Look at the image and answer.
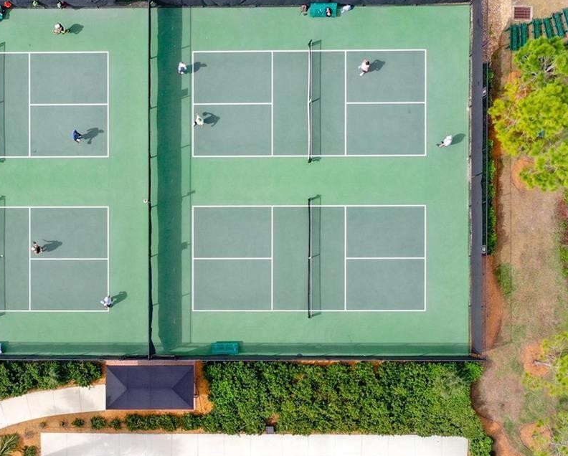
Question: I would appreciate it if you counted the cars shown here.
zero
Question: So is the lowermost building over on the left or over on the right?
left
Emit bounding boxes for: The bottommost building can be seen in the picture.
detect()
[105,361,197,411]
